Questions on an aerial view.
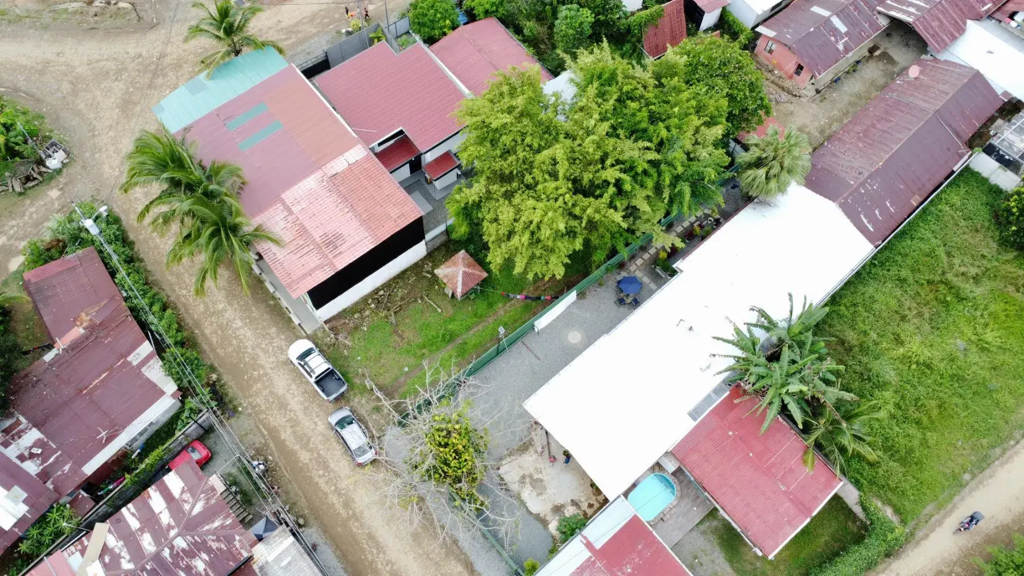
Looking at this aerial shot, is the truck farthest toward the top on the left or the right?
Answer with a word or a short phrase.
left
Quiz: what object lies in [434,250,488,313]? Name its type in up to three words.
shed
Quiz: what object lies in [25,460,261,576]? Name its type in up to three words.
house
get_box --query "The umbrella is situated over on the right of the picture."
[616,276,640,296]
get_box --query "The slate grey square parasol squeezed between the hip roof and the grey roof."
[250,516,279,541]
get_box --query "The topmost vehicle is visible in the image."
[292,340,350,406]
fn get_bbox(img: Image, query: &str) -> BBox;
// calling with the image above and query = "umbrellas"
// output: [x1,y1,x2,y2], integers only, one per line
[250,516,279,541]
[616,276,640,296]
